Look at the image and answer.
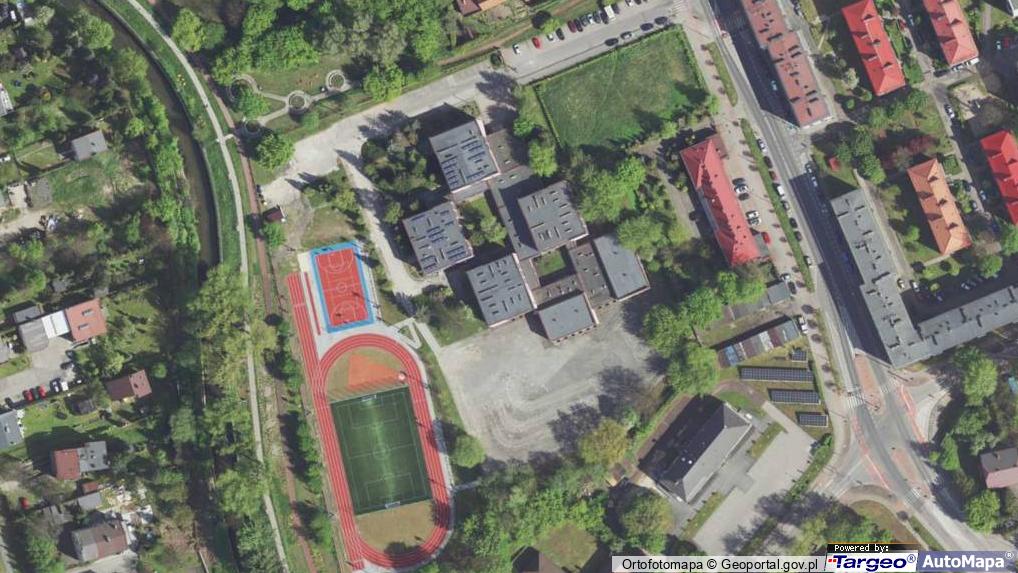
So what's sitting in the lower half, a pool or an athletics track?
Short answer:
athletics track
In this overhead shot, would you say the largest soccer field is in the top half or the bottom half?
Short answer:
bottom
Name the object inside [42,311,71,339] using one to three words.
building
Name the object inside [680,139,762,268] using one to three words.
house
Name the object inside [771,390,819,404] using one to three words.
solar array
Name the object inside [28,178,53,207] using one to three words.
shed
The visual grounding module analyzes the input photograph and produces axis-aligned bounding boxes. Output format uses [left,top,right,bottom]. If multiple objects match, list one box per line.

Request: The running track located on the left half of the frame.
[286,272,450,569]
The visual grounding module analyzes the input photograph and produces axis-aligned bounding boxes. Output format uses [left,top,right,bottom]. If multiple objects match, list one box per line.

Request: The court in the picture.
[311,241,376,332]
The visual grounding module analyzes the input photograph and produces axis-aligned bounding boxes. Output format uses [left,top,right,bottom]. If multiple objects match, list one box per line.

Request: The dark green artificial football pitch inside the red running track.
[331,387,431,516]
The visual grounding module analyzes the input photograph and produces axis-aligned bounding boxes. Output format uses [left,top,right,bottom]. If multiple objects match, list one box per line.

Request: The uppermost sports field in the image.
[326,348,409,403]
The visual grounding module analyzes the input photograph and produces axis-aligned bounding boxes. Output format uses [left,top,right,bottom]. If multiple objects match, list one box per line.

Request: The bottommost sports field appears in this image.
[355,500,435,553]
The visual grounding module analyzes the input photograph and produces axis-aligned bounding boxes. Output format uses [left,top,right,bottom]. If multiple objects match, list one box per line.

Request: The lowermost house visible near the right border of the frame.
[980,447,1018,488]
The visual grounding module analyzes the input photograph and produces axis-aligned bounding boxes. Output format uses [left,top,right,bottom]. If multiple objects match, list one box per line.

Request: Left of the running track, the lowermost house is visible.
[72,520,129,561]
